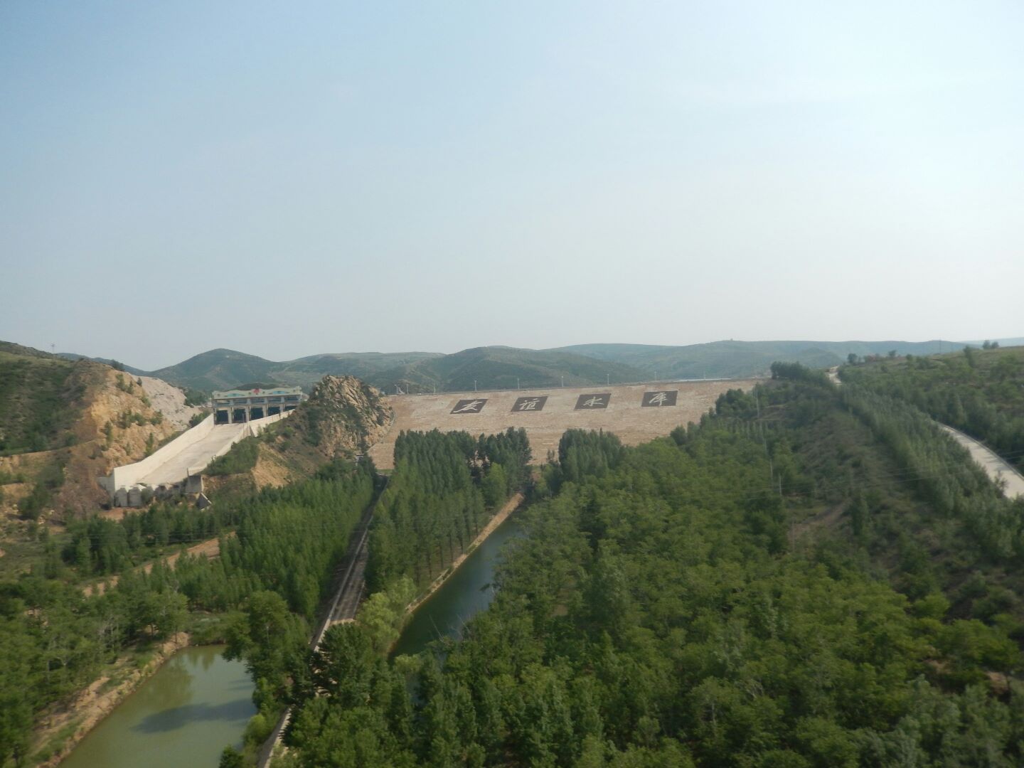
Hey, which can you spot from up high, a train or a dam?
dam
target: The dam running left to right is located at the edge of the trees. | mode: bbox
[371,376,771,461]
